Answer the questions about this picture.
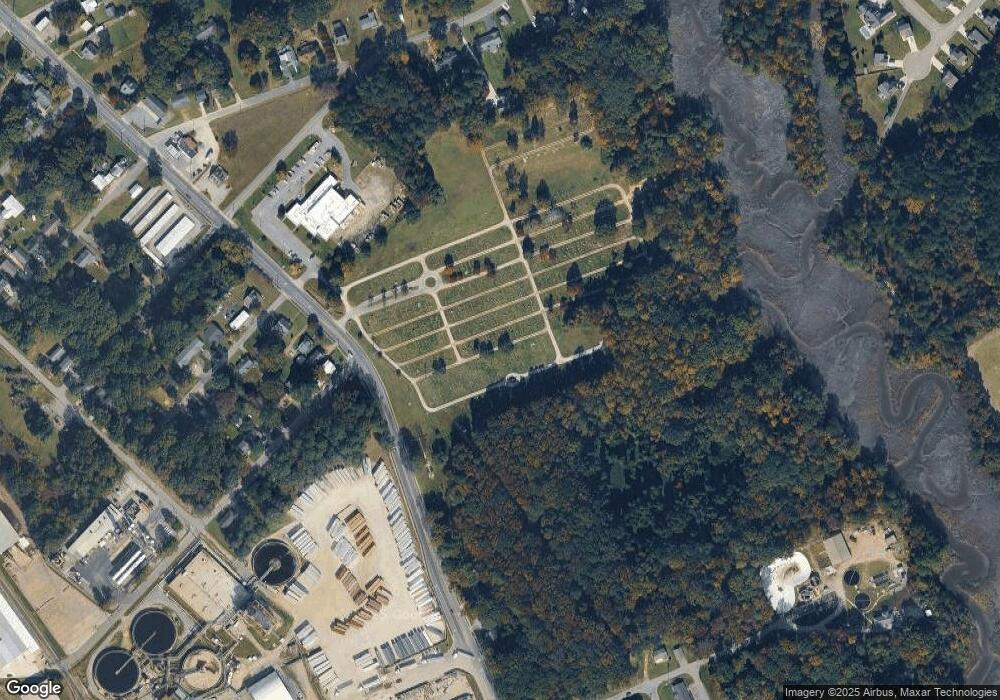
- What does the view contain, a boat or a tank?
tank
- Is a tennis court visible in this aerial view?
No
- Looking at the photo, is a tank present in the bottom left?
Yes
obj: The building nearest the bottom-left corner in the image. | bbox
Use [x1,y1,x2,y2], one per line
[0,595,39,678]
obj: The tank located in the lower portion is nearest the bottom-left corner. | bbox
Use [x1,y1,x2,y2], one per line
[92,647,142,696]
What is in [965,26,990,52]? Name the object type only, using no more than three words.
house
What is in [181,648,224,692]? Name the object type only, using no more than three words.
storage tank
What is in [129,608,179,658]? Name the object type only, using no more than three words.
storage tank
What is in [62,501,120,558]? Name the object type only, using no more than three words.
building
